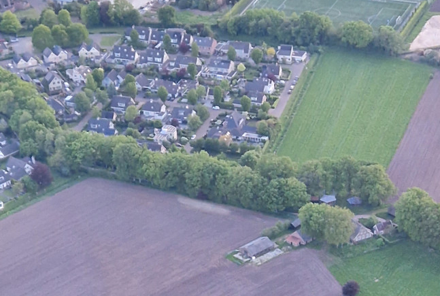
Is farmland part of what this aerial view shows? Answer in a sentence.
Yes, farmland can be seen from above here.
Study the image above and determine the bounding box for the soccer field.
[244,0,414,36]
